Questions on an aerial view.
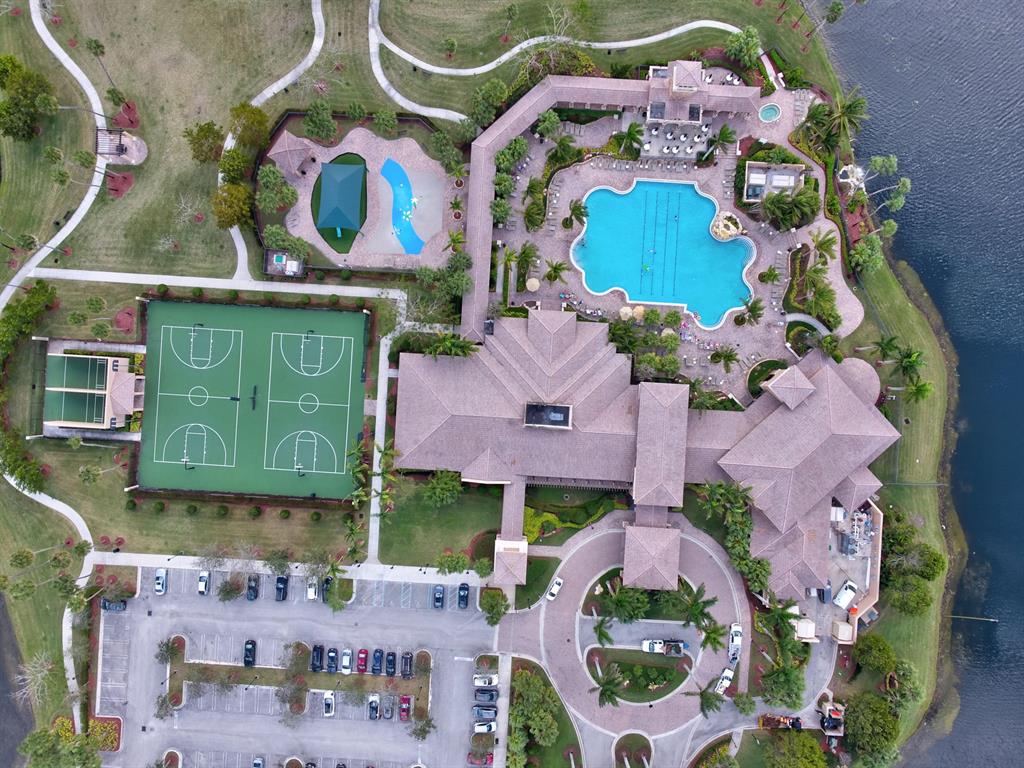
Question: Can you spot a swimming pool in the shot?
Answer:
Yes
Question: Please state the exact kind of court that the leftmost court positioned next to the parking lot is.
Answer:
basketball court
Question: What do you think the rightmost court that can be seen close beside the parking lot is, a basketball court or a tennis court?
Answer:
basketball court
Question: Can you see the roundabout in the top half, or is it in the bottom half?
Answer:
bottom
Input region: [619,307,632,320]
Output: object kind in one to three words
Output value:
umbrella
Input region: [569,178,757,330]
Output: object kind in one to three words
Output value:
swimming pool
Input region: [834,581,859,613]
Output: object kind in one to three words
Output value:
vehicle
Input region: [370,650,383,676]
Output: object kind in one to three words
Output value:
vehicle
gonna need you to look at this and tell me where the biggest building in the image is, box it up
[395,310,901,601]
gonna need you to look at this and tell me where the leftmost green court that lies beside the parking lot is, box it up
[139,301,256,495]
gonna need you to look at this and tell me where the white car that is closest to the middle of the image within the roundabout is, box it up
[547,576,564,603]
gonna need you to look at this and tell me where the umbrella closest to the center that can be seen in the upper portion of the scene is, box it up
[526,278,540,292]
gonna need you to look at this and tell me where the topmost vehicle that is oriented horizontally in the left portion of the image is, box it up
[100,600,126,613]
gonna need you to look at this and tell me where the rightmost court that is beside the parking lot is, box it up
[247,307,365,501]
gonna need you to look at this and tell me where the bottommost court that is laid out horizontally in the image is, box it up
[43,391,106,424]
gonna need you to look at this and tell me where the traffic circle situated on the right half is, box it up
[497,533,793,768]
